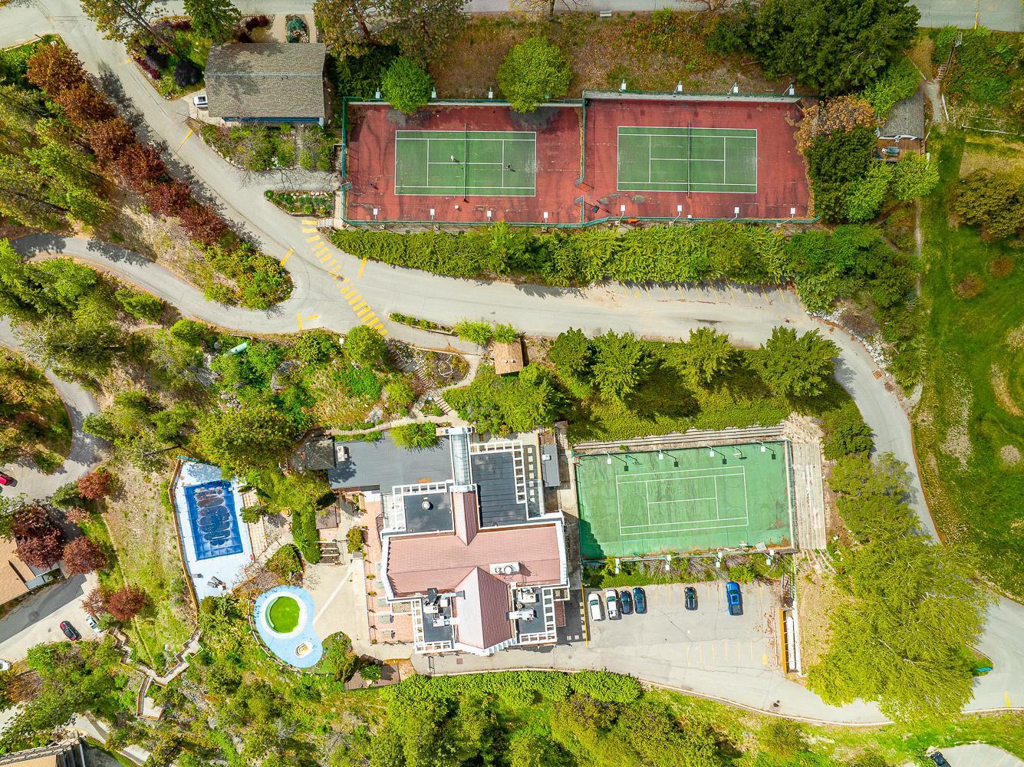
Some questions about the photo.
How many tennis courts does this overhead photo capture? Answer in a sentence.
The count of tennis courts comes to 3.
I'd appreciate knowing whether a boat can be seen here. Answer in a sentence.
No, no boat can be seen from above.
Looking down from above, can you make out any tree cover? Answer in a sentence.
Yes, some tree cover is visible.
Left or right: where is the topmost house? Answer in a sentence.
The topmost house sits on the left side.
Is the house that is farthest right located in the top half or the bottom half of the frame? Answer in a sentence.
Seen from above, the house that is farthest right lies in the top half of the view.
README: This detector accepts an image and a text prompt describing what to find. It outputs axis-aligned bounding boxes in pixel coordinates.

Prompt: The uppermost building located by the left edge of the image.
[0,532,68,605]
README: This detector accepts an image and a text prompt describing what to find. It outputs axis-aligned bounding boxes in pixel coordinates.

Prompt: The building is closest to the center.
[494,341,523,374]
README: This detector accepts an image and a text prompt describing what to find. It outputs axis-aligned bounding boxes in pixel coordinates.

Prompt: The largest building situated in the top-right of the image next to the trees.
[874,92,926,161]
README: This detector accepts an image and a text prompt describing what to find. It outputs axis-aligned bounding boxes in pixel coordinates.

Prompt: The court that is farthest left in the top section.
[347,104,581,222]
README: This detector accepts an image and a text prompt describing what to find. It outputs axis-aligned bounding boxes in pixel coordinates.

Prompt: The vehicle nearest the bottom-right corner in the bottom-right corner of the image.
[929,746,949,767]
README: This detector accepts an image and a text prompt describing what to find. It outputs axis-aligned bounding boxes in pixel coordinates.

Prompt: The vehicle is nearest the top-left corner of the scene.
[189,95,208,110]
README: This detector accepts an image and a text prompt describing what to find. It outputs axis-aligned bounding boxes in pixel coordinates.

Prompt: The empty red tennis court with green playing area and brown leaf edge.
[582,102,818,222]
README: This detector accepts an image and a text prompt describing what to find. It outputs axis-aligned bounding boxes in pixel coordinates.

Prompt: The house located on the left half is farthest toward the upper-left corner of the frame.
[205,43,328,123]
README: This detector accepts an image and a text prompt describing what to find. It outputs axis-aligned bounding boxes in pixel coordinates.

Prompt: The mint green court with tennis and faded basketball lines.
[577,444,797,562]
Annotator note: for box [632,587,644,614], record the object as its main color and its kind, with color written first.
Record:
blue vehicle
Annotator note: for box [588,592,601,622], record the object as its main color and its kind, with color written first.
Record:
white vehicle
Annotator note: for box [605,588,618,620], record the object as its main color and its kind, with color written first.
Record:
white vehicle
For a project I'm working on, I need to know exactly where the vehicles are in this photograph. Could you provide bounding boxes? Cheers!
[727,582,741,616]
[605,588,618,620]
[632,587,644,614]
[588,592,601,622]
[85,612,103,635]
[619,590,630,614]
[929,746,949,767]
[684,586,696,609]
[61,619,80,642]
[189,95,208,110]
[0,473,16,487]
